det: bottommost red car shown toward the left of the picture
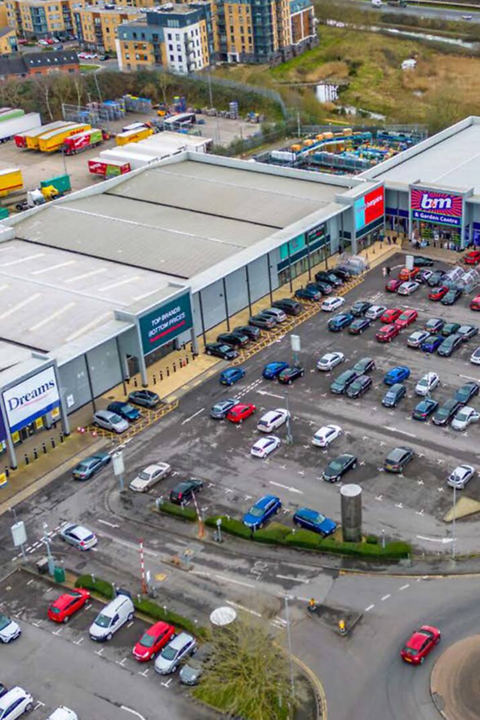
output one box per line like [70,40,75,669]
[132,621,175,661]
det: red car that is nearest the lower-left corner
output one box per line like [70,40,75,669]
[46,587,93,625]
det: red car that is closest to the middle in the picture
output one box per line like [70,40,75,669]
[226,403,256,424]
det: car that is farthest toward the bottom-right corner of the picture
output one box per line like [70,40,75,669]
[400,625,441,667]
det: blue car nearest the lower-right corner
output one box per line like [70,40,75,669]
[292,505,339,536]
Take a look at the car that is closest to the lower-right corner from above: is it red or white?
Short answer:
red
